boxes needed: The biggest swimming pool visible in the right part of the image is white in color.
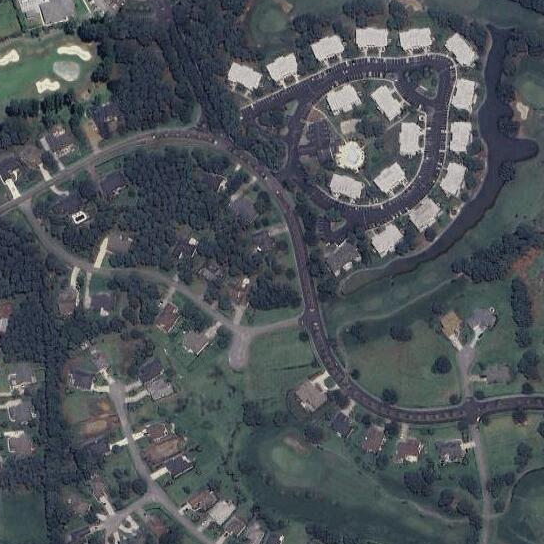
[335,142,361,170]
